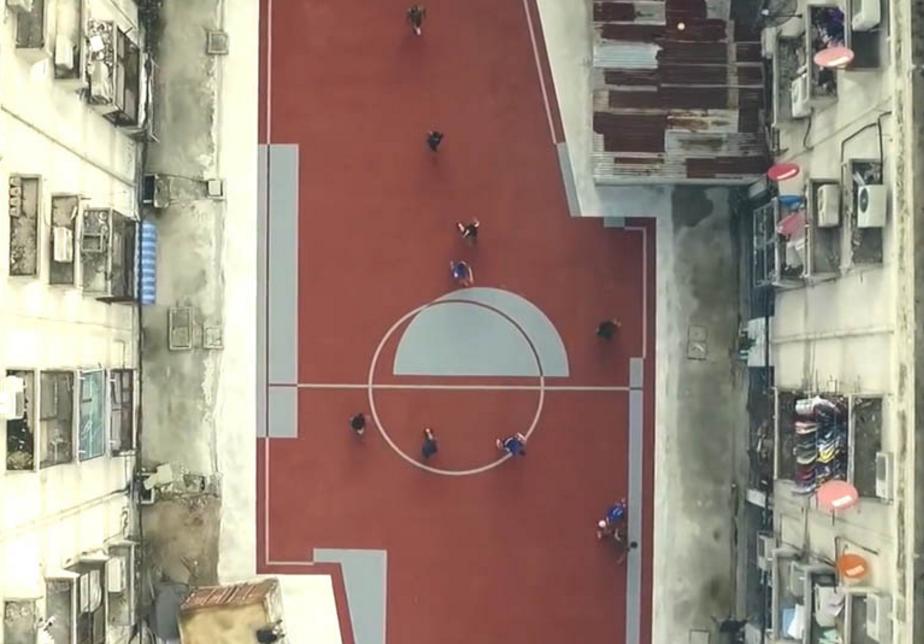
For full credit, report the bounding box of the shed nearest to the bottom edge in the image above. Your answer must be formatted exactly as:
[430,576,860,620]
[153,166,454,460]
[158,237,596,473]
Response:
[181,575,294,644]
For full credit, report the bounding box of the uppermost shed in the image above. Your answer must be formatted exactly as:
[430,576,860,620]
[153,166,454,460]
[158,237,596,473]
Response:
[587,0,774,192]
